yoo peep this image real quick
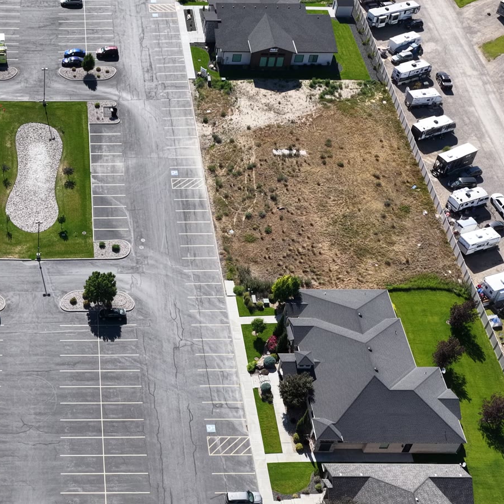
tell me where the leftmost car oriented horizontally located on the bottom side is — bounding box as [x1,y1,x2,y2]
[99,307,128,320]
